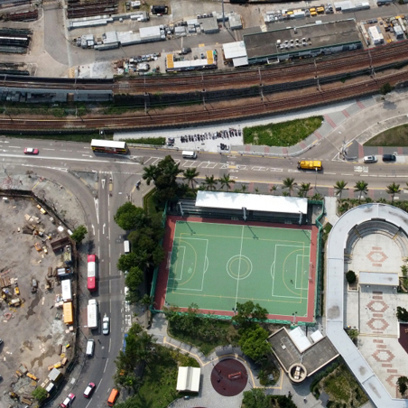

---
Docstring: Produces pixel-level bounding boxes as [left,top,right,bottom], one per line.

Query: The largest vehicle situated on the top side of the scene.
[90,141,127,154]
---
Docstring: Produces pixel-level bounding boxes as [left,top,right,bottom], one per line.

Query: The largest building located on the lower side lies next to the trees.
[268,328,338,386]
